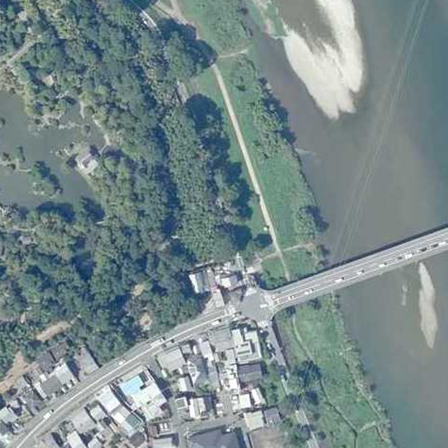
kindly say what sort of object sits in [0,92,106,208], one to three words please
pond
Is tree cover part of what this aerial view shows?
Yes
